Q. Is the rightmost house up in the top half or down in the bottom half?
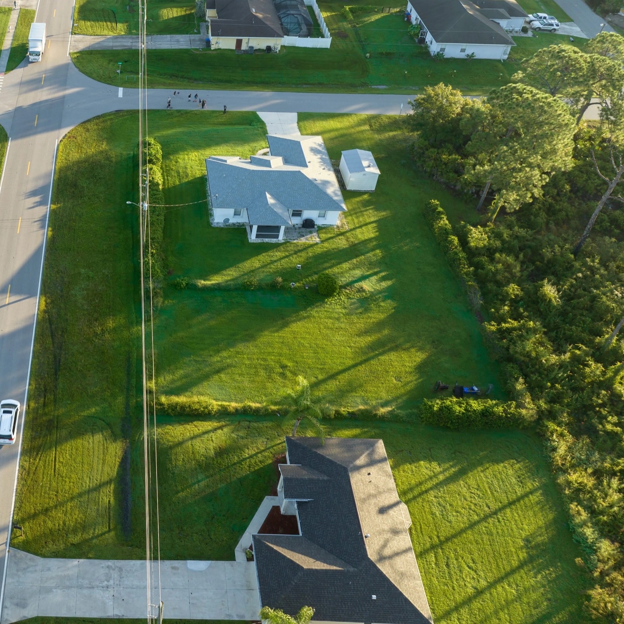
top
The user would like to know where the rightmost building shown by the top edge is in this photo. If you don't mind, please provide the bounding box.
[408,0,530,57]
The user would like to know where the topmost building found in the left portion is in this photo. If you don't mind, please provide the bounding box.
[204,0,285,50]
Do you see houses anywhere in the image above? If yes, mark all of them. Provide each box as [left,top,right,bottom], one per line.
[408,0,530,57]
[205,135,347,240]
[251,435,435,624]
[204,0,285,50]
